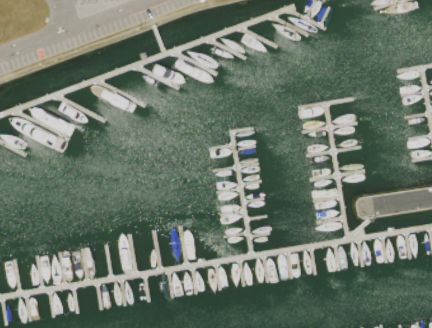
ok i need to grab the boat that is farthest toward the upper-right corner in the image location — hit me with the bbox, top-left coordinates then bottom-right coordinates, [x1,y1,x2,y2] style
[383,0,418,14]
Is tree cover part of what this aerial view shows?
No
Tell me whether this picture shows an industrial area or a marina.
marina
